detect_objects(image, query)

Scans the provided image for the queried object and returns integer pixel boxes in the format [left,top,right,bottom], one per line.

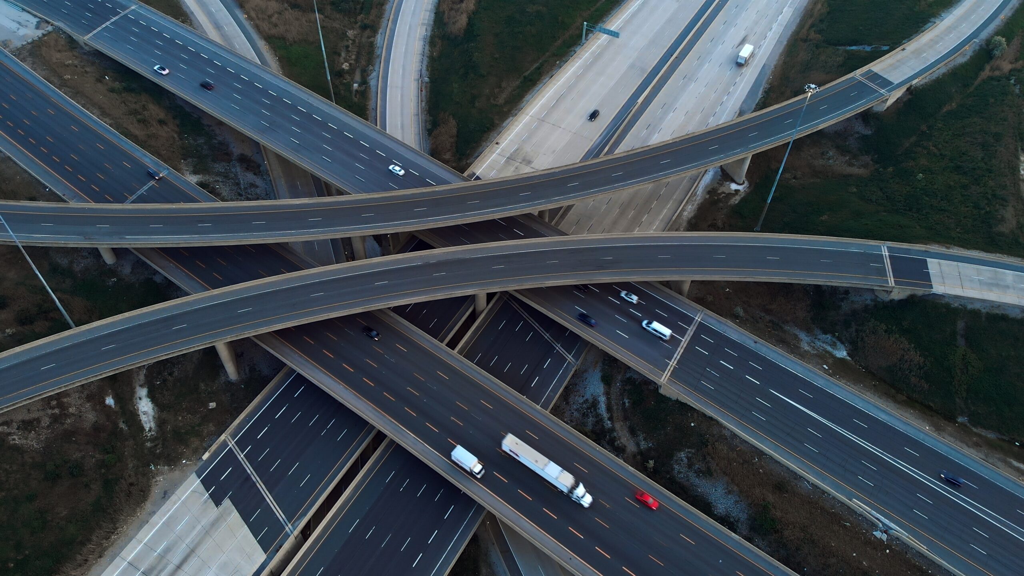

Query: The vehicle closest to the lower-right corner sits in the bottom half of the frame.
[938,469,967,489]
